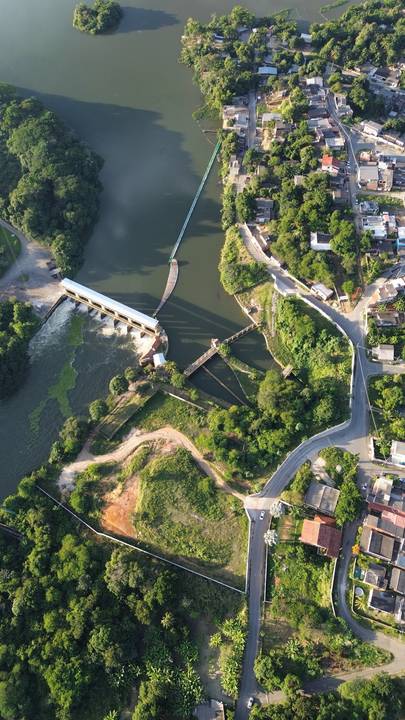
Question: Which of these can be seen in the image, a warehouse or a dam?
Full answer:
I can see a dam in this picture.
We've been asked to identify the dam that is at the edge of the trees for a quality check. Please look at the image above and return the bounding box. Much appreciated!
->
[58,277,162,348]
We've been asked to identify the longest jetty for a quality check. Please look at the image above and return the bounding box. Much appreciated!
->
[154,260,179,321]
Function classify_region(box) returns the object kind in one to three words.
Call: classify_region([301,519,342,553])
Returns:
house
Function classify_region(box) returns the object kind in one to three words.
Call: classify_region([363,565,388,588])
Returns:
house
